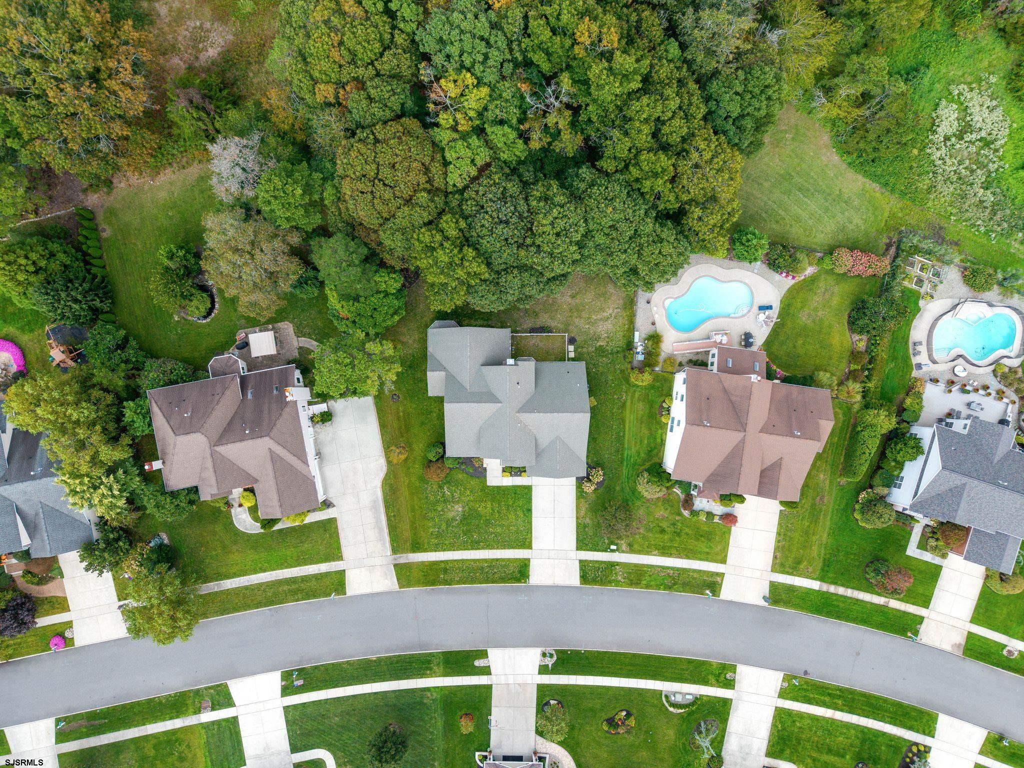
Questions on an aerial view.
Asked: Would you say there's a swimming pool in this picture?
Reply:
Yes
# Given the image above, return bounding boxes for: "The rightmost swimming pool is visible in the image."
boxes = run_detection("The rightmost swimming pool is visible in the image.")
[933,298,1023,367]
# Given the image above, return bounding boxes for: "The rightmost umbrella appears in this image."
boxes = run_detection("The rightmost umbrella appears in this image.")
[950,364,967,378]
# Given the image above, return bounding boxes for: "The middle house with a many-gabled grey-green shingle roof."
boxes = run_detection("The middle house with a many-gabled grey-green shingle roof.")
[427,320,590,478]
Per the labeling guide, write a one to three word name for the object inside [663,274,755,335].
swimming pool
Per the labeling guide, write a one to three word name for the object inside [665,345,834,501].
house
